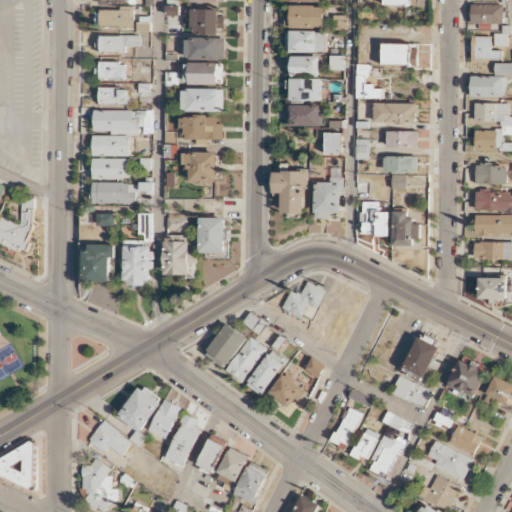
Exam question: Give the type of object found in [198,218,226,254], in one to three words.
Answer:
house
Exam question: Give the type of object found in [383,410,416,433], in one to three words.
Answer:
building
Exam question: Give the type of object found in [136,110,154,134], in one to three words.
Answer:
building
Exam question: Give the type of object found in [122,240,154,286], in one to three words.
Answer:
house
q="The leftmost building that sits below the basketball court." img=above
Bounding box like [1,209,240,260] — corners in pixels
[0,442,32,490]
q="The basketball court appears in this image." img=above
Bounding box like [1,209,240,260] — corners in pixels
[0,344,23,379]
